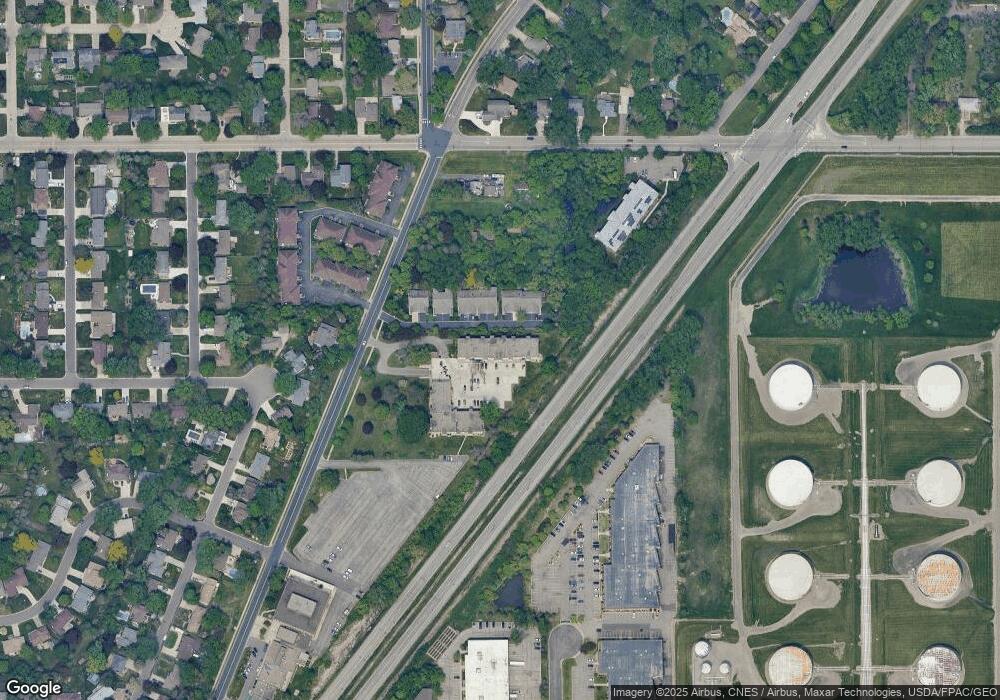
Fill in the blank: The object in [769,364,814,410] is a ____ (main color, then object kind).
white storage tank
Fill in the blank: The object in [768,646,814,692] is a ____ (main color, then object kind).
white storage tank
